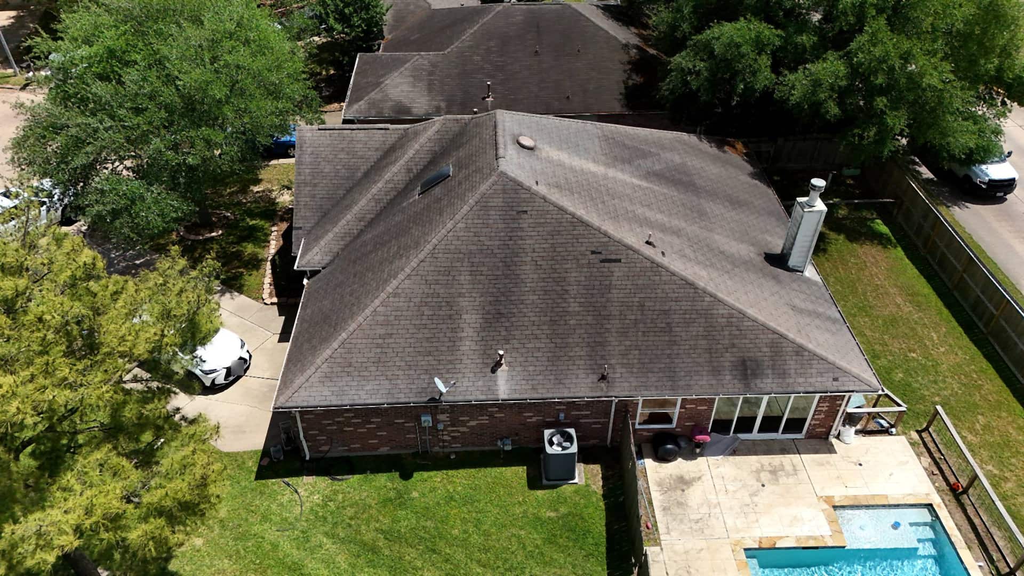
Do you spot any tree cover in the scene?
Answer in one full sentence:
Yes, there's tree cover in this view.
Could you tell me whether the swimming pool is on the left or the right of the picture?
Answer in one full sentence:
It is on the right.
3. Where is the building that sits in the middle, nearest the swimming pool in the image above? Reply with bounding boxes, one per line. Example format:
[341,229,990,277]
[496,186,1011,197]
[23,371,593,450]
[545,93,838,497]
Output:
[269,106,885,464]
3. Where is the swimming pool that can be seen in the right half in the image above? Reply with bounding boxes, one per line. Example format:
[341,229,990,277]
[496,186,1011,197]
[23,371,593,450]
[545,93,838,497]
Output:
[745,503,971,576]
